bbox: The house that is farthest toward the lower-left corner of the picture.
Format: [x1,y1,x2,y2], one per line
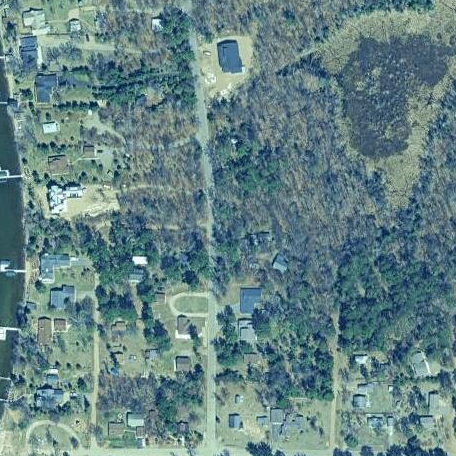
[37,389,63,408]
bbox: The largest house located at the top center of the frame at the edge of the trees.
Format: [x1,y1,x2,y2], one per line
[217,39,245,73]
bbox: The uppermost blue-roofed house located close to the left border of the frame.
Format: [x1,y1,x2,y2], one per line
[21,37,41,66]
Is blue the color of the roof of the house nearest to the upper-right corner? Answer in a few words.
Yes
